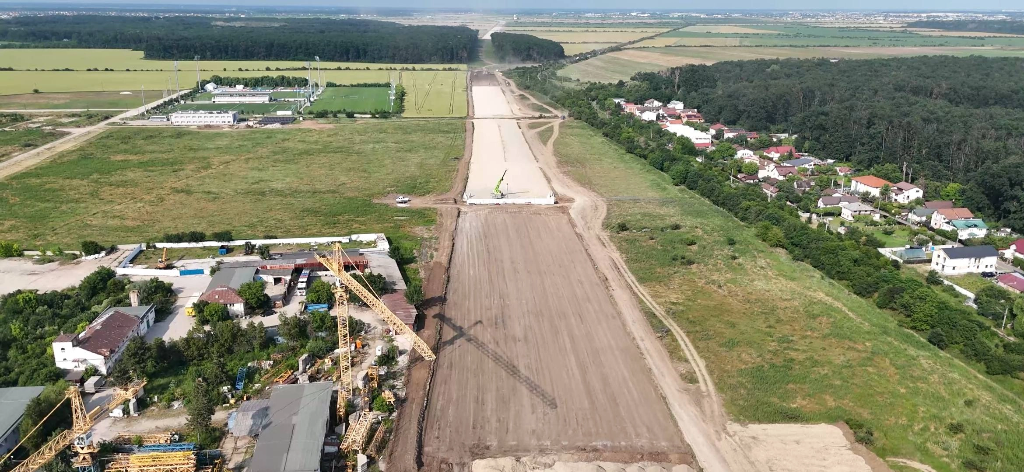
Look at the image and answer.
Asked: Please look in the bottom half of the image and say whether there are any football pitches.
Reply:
No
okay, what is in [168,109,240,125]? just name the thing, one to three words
building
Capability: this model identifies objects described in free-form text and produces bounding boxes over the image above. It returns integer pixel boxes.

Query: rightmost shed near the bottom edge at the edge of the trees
[252,380,334,472]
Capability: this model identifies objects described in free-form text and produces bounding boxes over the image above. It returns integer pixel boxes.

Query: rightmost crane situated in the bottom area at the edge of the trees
[317,244,438,407]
